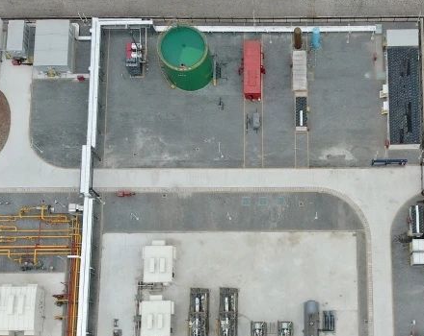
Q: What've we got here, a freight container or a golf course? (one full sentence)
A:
Visible in the photo is a freight container.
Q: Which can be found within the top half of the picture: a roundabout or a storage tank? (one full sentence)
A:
Visible within the top half of the picture is a storage tank.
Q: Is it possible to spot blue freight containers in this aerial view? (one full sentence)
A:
No, the frame has no blue freight container in it.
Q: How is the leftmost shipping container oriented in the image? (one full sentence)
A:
What the image shows is the leftmost shipping container lying up and down.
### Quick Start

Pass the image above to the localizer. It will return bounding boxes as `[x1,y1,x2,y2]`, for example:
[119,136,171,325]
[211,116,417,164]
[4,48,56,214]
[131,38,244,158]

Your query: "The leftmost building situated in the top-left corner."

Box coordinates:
[5,20,33,60]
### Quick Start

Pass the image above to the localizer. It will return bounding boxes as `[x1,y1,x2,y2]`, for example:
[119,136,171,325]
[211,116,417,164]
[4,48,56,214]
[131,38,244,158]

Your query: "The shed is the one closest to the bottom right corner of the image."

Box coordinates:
[408,205,424,240]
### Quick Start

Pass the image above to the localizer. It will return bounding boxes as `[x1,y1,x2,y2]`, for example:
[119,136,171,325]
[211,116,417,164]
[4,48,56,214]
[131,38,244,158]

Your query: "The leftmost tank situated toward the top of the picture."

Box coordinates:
[155,20,217,90]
